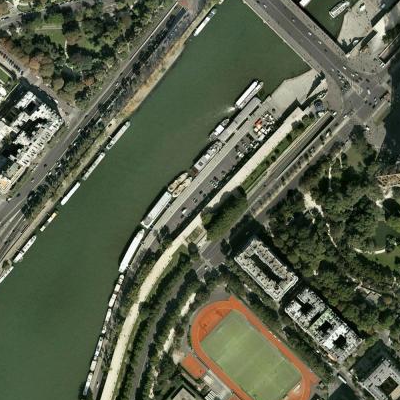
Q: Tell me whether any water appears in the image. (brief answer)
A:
Yes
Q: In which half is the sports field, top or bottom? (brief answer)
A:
bottom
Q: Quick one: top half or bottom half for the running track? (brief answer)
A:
bottom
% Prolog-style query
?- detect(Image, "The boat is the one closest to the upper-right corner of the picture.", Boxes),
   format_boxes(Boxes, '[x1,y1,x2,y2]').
[329,4,349,20]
